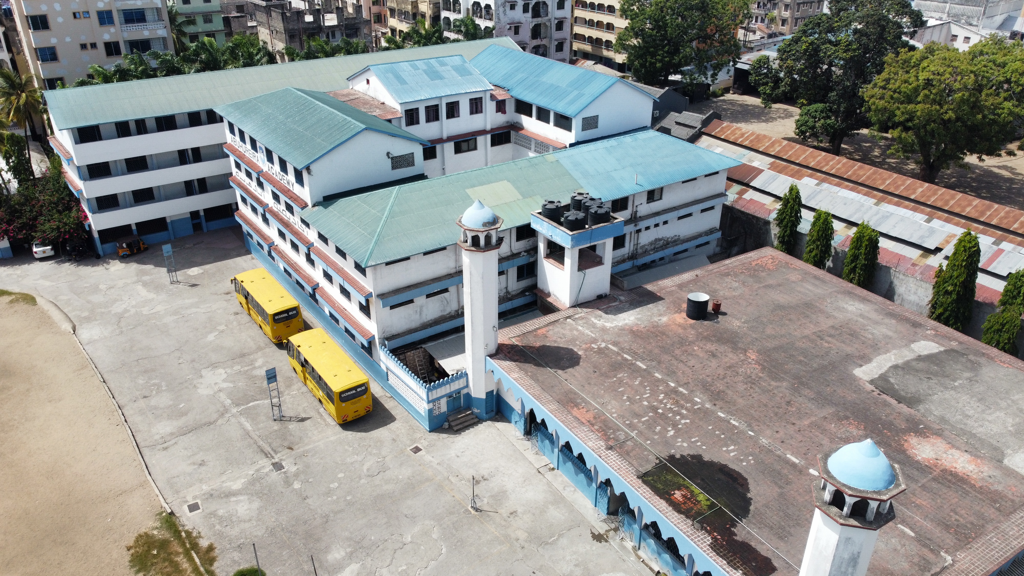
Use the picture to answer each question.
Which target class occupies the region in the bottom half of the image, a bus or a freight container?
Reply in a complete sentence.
There is a bus in the bottom half of the image.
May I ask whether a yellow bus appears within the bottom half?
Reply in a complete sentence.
Yes, a yellow bus shows up within the bottom half.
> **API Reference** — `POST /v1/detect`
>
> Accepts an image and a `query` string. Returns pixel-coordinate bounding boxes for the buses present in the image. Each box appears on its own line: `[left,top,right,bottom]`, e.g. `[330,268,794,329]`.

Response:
[285,335,371,422]
[234,273,302,340]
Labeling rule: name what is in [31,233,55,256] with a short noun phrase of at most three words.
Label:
car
